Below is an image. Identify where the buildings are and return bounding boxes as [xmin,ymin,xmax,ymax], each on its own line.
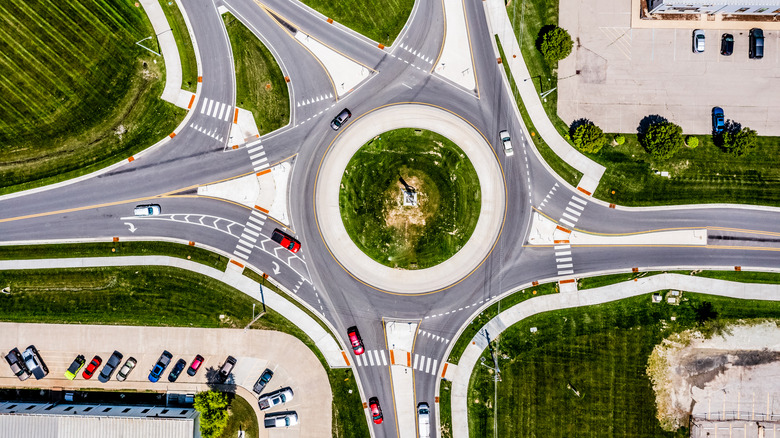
[0,401,203,438]
[651,0,780,15]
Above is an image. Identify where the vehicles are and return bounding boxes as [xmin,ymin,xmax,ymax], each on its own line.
[6,349,31,380]
[690,29,706,55]
[719,32,734,57]
[264,411,298,426]
[251,366,274,395]
[187,353,206,377]
[498,129,513,158]
[258,388,293,408]
[98,350,123,382]
[349,326,364,354]
[83,355,104,380]
[217,354,238,382]
[63,354,85,379]
[149,350,173,382]
[328,107,354,131]
[369,396,382,423]
[168,356,187,382]
[747,27,765,60]
[270,229,302,253]
[24,347,49,379]
[117,356,138,382]
[710,106,726,134]
[133,204,162,217]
